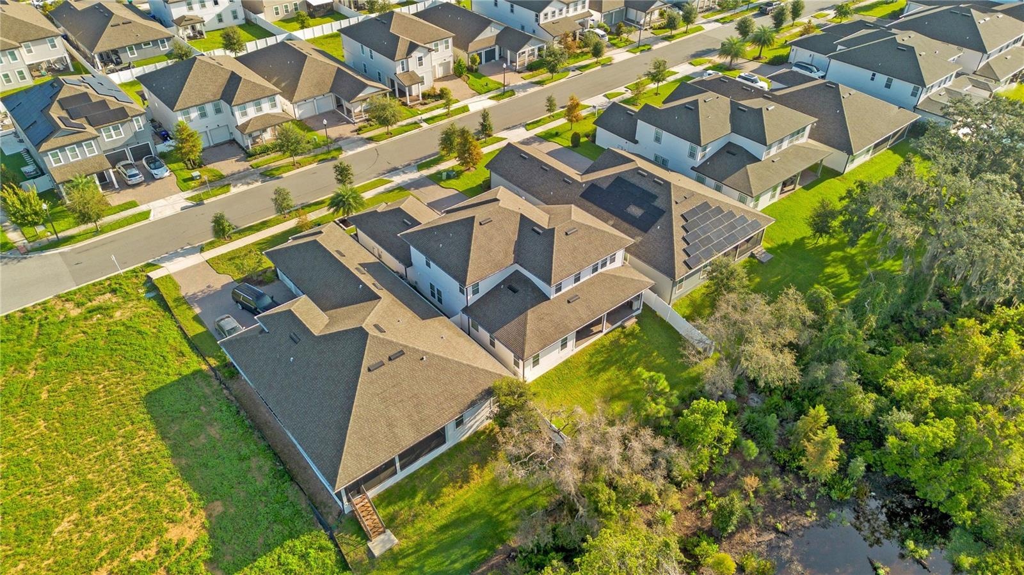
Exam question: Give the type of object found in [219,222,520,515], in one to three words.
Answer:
house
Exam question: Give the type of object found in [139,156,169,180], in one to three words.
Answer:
car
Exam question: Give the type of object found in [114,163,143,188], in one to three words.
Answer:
car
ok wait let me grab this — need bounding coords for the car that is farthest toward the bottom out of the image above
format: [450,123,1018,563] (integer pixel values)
[214,311,247,339]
